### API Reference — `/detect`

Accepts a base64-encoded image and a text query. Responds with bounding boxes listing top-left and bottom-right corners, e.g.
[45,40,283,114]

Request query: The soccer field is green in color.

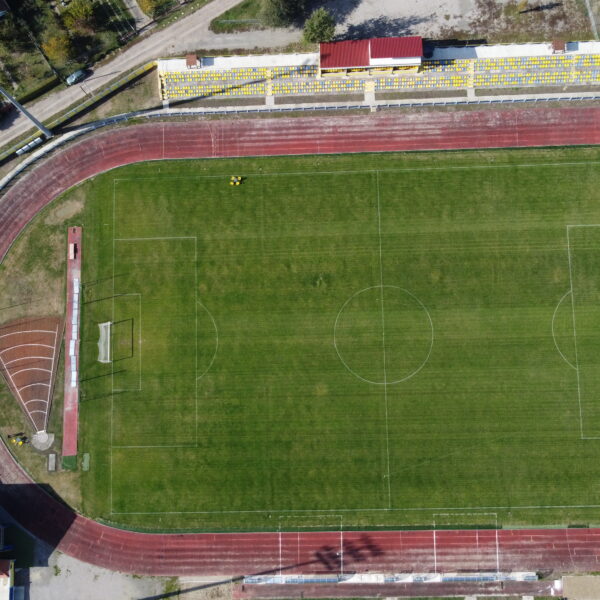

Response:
[104,158,600,519]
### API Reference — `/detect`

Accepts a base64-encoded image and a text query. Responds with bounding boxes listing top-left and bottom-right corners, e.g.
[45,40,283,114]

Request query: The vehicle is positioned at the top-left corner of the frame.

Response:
[65,66,87,84]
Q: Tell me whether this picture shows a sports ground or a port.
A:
sports ground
